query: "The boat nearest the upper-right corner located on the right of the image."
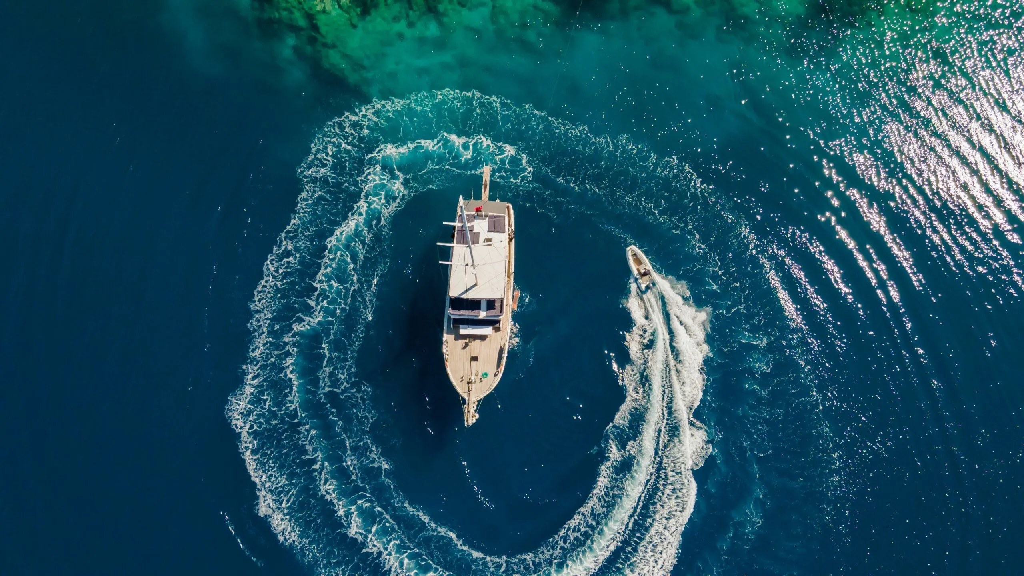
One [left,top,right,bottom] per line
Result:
[625,246,659,293]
